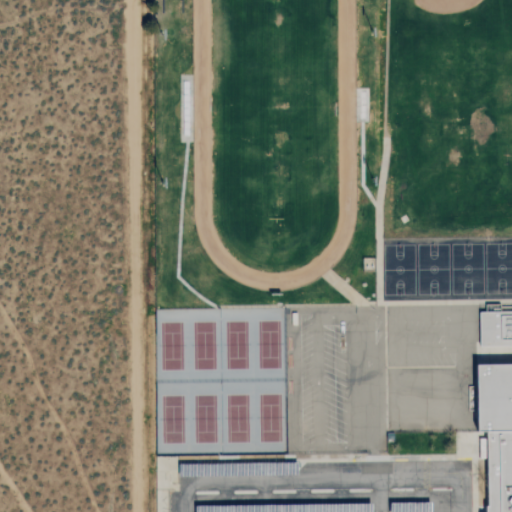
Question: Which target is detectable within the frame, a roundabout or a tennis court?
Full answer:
Visible in the photo is a tennis court.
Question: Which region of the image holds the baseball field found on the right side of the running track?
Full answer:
The baseball field found on the right side of the running track is located in the top right region of the scene.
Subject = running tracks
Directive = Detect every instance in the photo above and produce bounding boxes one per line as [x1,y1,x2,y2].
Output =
[194,0,357,292]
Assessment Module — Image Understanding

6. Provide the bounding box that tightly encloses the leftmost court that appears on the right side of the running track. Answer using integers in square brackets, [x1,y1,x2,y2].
[384,244,418,297]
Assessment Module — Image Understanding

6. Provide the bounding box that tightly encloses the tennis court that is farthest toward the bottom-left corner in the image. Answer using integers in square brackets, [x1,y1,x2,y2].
[163,396,185,443]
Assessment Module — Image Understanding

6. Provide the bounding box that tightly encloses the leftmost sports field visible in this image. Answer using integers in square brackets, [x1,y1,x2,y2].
[212,0,339,272]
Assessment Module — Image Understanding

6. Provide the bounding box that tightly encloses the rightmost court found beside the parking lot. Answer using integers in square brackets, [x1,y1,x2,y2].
[486,242,512,296]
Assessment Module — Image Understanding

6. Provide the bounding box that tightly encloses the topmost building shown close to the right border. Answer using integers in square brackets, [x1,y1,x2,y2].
[480,311,512,346]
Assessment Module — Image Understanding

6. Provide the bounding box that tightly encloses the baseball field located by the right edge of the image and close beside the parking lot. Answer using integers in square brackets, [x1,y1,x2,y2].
[390,0,512,227]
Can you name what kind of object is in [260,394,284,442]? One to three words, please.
tennis court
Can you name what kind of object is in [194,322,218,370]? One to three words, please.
tennis court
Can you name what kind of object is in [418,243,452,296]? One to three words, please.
basketball court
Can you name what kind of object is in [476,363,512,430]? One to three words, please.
building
